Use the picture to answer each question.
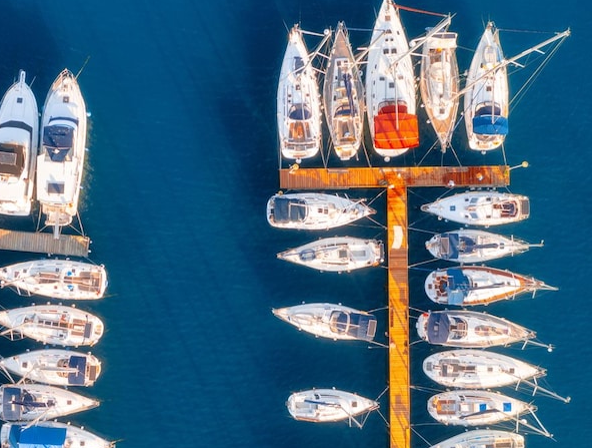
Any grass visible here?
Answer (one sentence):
No, there's no grass in this view.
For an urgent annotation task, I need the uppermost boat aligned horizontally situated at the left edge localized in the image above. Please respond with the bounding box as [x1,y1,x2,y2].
[0,254,107,302]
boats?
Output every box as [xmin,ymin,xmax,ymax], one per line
[417,26,500,171]
[361,0,452,171]
[0,418,114,448]
[458,20,571,171]
[411,264,564,308]
[274,232,392,274]
[413,425,526,448]
[0,65,40,231]
[267,191,393,232]
[411,307,555,352]
[411,345,574,401]
[0,380,102,427]
[413,383,557,439]
[33,64,91,238]
[410,226,549,266]
[287,383,395,429]
[323,19,385,171]
[0,301,104,347]
[273,23,327,171]
[0,254,107,302]
[0,345,102,385]
[410,188,530,229]
[269,298,393,346]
